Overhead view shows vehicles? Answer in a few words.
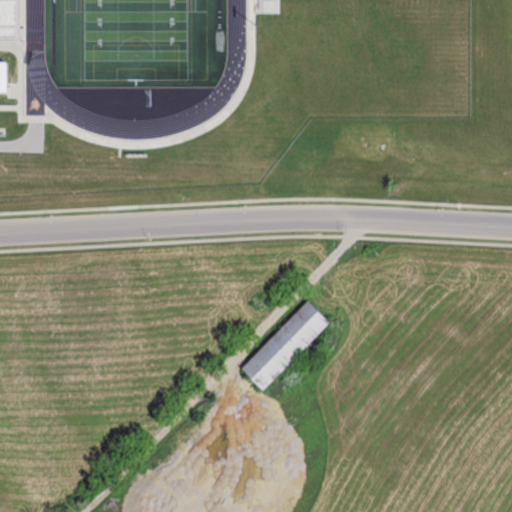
No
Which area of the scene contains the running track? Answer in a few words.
top left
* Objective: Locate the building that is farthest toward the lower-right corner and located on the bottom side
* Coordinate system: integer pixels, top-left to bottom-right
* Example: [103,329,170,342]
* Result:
[241,302,329,390]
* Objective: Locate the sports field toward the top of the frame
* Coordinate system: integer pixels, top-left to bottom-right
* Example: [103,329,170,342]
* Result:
[46,0,227,86]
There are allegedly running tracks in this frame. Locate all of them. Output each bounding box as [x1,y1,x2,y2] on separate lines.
[27,0,246,138]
